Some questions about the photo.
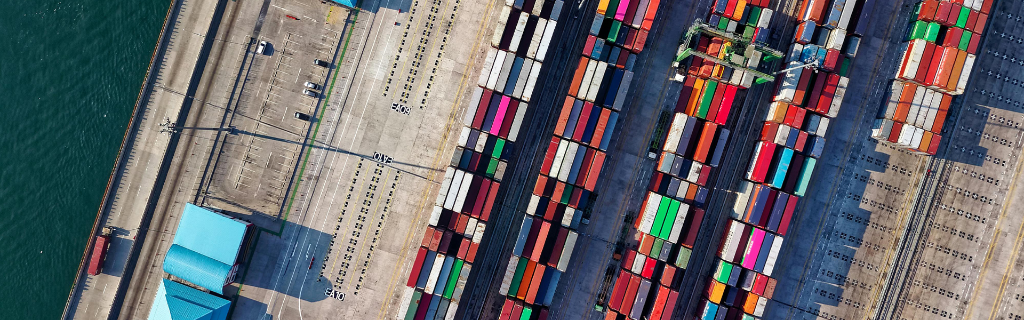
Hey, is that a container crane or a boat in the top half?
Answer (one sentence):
It is a container crane that can be seen in the top half.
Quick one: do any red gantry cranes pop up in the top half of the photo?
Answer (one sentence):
No, I see no red gantry crane in the top half of the photo.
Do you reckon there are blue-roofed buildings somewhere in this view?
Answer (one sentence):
Yes, the photo shows a blue-roofed building.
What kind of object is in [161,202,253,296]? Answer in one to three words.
building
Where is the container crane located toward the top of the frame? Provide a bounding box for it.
[666,11,785,98]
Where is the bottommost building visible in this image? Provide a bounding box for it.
[148,279,234,320]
